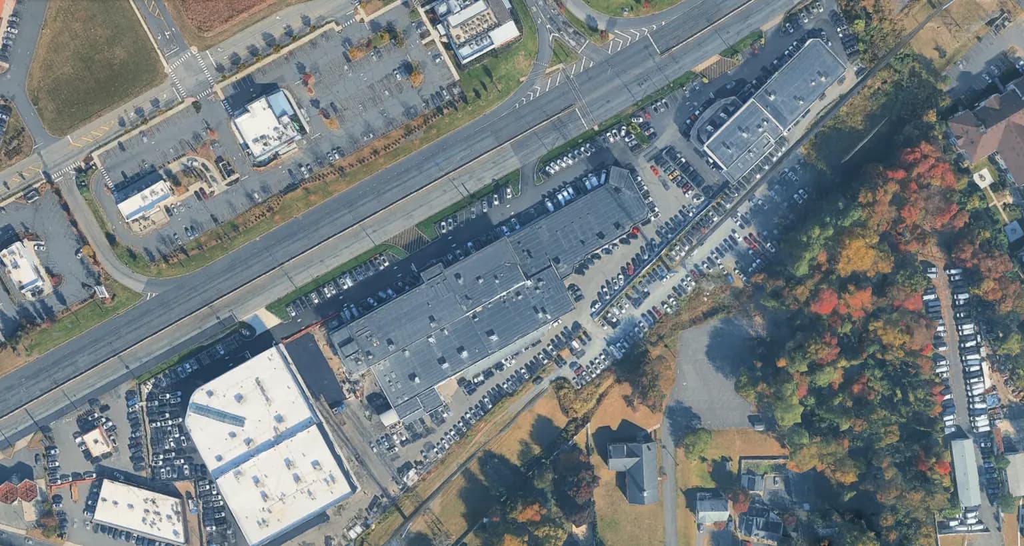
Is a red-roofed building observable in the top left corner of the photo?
No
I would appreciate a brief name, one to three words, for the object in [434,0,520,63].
building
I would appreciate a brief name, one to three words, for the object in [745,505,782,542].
house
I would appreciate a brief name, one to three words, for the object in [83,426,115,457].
building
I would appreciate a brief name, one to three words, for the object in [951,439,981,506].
shed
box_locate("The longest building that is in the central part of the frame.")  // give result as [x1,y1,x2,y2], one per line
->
[329,186,648,427]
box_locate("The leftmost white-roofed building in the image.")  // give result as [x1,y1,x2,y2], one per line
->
[0,242,44,293]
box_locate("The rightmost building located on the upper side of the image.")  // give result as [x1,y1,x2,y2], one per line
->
[947,75,1024,200]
